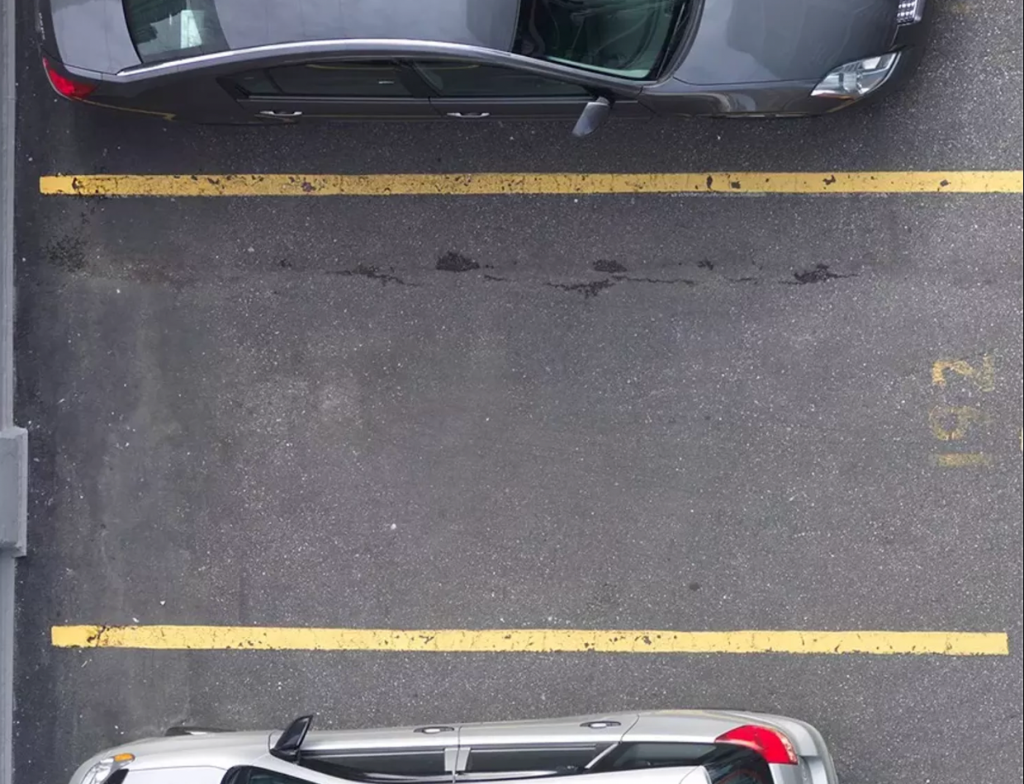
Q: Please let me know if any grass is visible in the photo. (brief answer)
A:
No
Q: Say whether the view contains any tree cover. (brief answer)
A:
No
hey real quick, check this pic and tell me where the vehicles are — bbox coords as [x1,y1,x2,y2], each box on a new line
[35,0,930,135]
[65,709,836,784]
